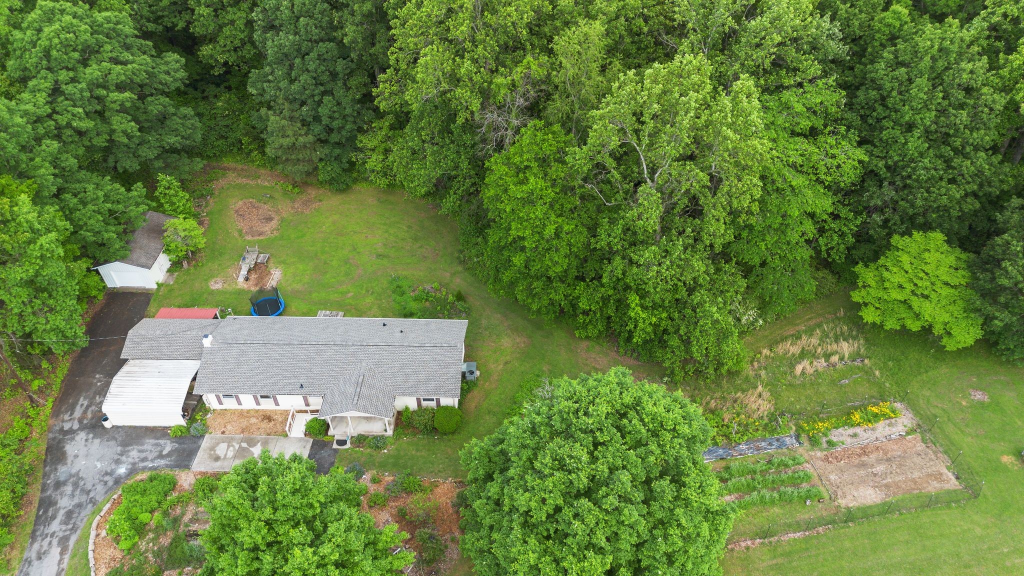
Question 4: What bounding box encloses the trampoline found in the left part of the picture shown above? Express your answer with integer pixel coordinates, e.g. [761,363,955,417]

[242,283,286,315]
